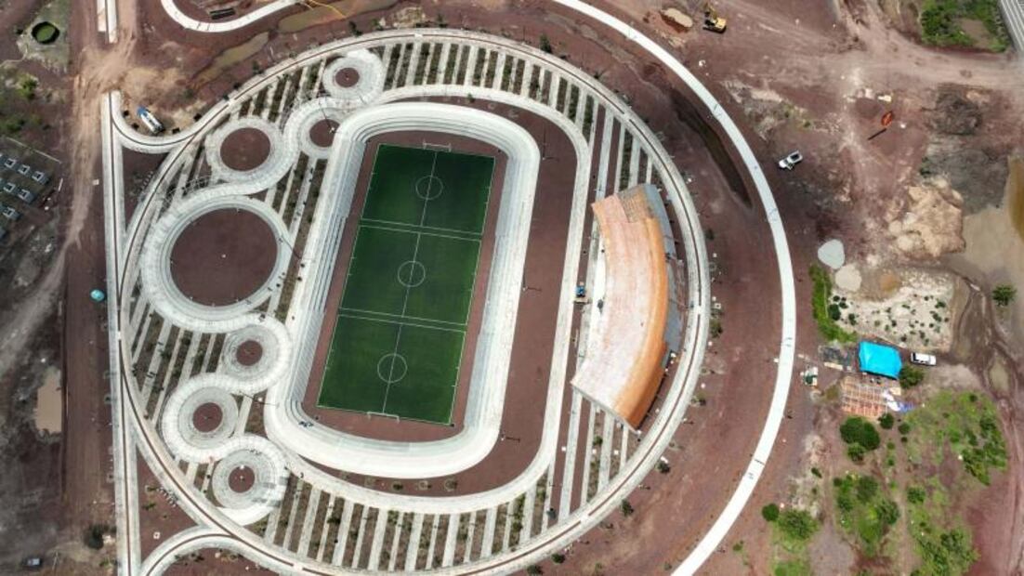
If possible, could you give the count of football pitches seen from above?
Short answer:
3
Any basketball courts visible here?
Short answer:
No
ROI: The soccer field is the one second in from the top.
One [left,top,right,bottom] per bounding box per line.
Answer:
[339,222,483,331]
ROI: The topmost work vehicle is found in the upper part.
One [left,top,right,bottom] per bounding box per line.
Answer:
[699,0,728,30]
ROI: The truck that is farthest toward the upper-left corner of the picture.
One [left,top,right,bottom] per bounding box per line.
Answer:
[132,103,162,131]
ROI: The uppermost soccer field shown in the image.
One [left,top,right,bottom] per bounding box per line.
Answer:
[361,145,496,237]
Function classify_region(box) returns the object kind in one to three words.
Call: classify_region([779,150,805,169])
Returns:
vehicle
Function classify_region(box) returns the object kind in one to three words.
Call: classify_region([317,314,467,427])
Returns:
soccer field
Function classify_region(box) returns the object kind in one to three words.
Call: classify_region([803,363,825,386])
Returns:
shed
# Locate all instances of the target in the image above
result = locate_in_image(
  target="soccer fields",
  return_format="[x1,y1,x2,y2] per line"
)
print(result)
[361,145,496,237]
[339,222,483,331]
[317,314,467,427]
